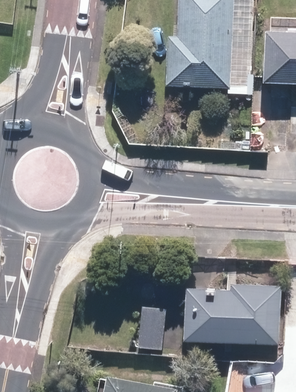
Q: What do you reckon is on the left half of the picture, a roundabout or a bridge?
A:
roundabout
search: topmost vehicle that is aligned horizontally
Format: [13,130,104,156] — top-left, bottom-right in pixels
[4,118,32,132]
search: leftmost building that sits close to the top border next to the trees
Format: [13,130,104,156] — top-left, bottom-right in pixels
[166,0,234,88]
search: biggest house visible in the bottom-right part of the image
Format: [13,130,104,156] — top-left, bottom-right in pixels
[184,284,282,346]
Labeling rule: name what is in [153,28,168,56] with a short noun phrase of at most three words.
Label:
car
